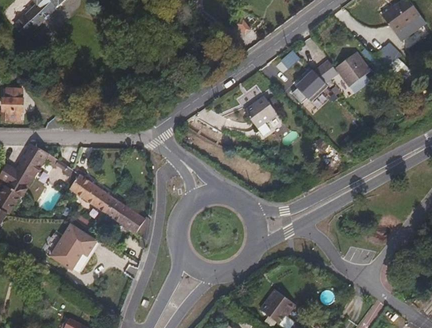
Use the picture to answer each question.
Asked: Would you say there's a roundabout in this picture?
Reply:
Yes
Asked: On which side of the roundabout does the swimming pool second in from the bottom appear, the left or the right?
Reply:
left of it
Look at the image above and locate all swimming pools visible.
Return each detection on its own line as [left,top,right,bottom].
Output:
[282,131,300,144]
[320,288,336,304]
[40,188,60,210]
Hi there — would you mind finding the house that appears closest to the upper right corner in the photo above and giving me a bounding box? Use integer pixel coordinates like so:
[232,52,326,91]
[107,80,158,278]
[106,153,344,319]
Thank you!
[382,0,428,48]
